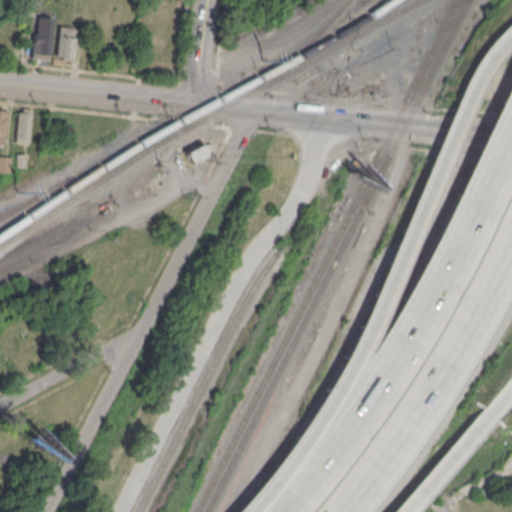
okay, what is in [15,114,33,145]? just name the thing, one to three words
house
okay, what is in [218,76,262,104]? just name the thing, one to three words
rail car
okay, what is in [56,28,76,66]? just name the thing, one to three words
house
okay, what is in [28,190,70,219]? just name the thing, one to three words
rail car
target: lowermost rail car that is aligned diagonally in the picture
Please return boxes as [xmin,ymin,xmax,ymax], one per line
[0,212,34,241]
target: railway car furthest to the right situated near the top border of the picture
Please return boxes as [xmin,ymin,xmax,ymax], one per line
[368,0,412,21]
